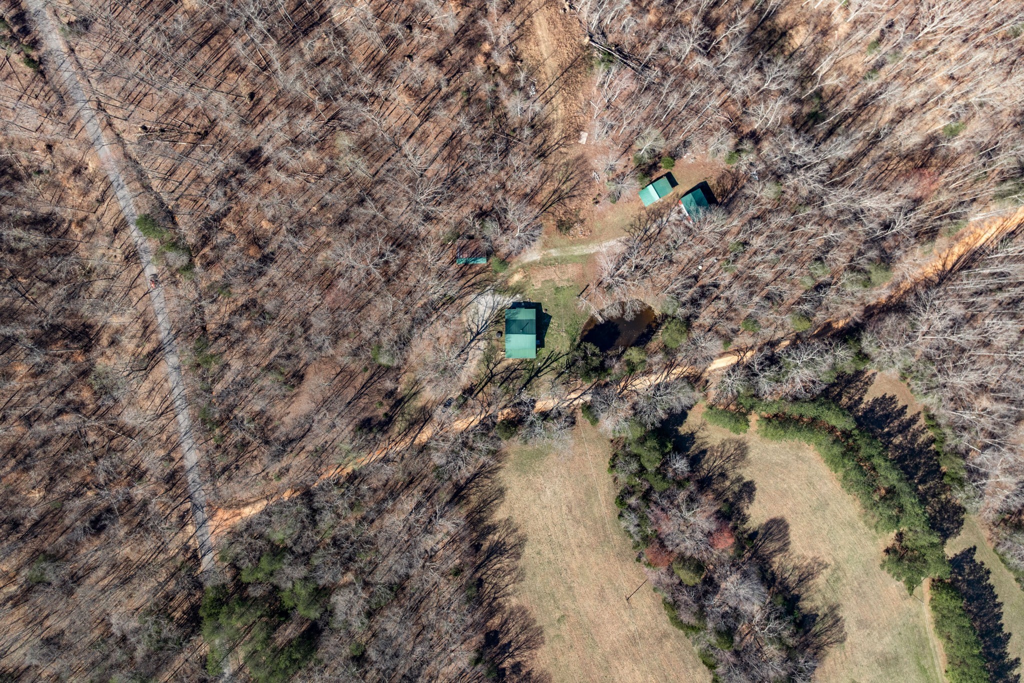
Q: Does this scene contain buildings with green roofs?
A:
Yes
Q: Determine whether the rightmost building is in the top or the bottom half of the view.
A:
top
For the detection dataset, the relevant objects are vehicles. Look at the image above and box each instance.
[442,398,455,410]
[148,274,157,290]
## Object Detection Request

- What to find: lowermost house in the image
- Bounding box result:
[501,308,539,358]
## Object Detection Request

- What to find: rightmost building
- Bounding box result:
[679,188,714,225]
